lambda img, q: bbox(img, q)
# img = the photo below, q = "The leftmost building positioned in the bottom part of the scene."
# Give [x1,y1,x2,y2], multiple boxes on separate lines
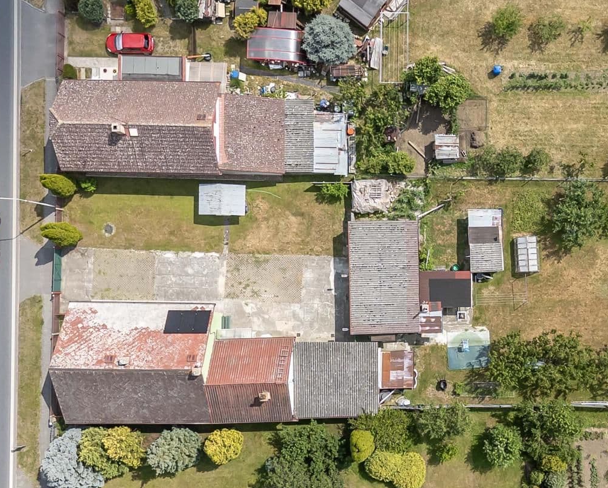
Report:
[46,300,225,425]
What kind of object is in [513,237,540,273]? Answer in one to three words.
greenhouse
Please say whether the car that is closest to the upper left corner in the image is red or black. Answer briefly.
red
